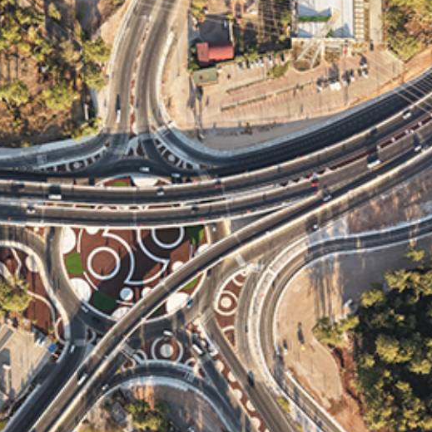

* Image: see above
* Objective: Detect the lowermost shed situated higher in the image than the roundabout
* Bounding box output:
[193,68,219,83]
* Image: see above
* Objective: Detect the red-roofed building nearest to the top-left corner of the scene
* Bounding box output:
[195,41,209,64]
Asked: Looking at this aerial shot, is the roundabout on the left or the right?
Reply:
left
